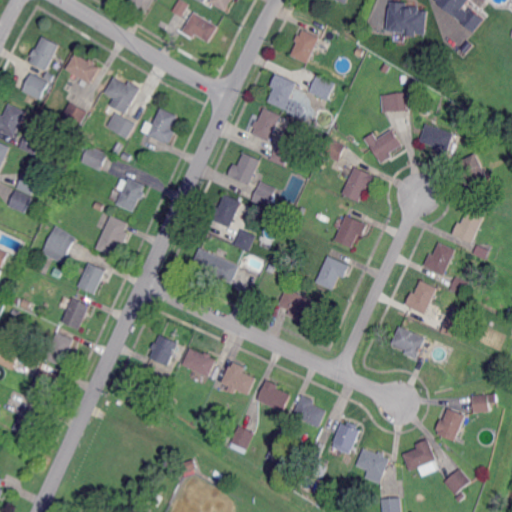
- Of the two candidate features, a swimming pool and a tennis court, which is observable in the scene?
swimming pool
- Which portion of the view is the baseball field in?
bottom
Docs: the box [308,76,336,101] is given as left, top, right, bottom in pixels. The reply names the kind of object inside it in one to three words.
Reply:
building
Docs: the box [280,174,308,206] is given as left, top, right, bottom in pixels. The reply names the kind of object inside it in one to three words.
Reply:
swimming pool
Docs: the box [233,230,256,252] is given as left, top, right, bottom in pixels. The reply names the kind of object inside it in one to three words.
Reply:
building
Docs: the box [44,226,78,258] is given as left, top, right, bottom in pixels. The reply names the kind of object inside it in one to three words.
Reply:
house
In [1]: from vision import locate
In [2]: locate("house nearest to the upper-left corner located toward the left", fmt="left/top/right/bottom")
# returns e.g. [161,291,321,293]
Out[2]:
[28,36,60,70]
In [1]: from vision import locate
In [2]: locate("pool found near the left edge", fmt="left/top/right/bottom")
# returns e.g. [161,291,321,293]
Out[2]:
[0,230,26,256]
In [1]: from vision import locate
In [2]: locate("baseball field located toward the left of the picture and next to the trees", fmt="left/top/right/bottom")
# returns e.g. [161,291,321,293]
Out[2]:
[170,476,236,512]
